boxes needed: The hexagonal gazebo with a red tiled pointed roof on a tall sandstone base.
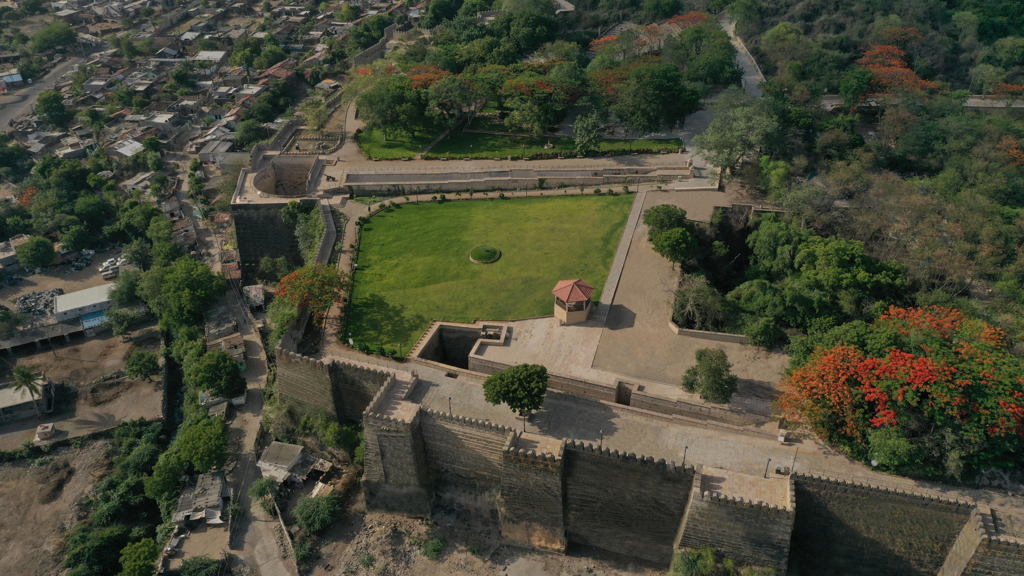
[552,278,609,325]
